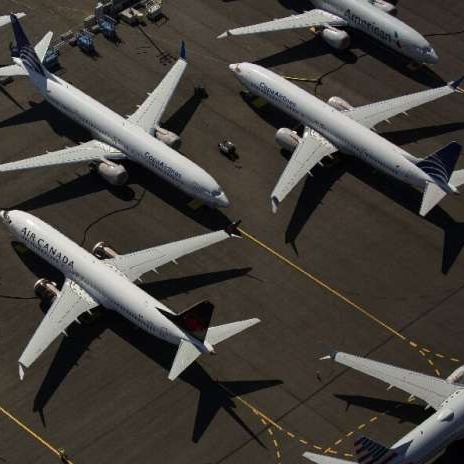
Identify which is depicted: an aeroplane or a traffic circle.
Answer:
aeroplane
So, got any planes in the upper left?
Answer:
Yes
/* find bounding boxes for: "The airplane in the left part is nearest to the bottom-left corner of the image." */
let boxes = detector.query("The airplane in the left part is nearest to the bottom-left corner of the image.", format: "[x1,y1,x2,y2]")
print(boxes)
[1,209,260,380]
